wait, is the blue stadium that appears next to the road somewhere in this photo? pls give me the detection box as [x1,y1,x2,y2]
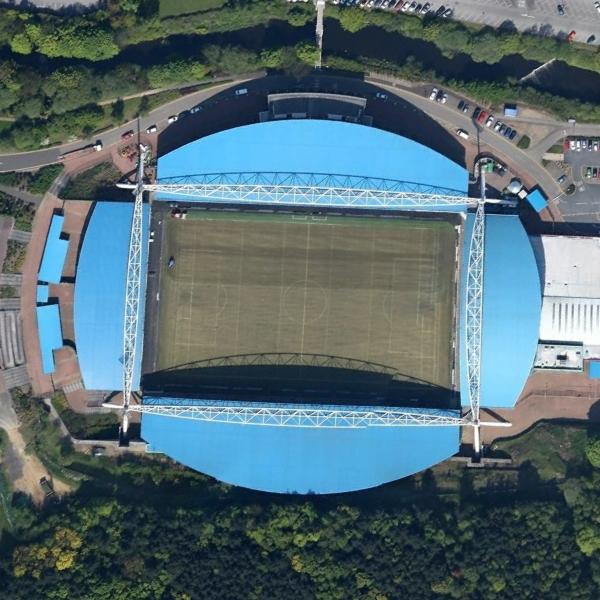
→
[73,119,543,495]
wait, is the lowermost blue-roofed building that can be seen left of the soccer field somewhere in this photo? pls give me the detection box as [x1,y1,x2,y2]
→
[36,304,63,374]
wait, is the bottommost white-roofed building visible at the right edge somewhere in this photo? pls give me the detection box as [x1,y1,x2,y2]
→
[533,235,600,371]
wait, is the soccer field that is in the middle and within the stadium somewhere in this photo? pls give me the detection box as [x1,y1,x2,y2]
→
[156,207,454,401]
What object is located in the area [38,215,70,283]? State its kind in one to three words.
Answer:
building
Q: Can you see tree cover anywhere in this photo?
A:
Yes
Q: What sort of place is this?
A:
sports ground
